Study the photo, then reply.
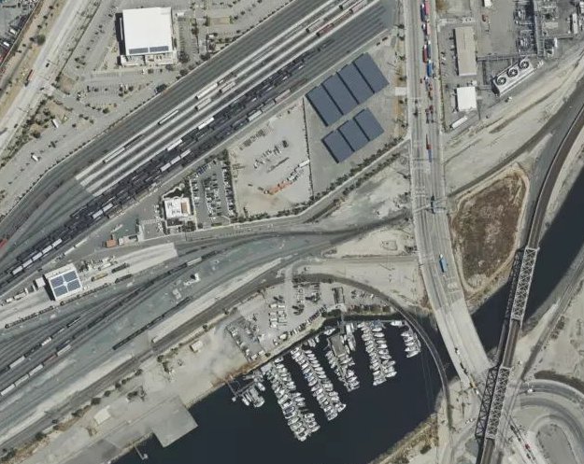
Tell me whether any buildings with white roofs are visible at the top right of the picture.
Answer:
Yes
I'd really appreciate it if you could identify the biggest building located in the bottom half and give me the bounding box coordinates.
[44,263,83,304]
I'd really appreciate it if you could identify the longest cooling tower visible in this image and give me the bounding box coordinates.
[492,57,534,98]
